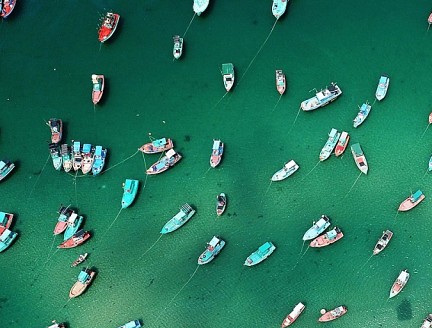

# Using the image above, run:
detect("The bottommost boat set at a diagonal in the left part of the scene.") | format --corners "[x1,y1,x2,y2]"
[69,266,100,298]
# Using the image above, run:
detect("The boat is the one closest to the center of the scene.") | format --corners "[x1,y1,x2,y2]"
[210,135,226,168]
